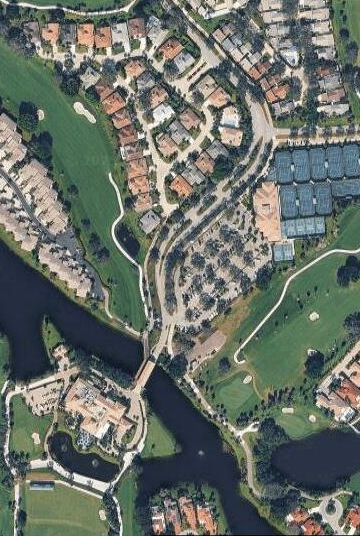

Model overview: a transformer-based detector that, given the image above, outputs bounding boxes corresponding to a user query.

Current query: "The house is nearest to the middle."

[138,210,163,234]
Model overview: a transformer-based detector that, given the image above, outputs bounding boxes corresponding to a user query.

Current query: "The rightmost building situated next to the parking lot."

[255,181,281,241]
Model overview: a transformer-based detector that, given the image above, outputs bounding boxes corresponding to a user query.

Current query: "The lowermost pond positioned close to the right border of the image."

[274,431,360,489]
